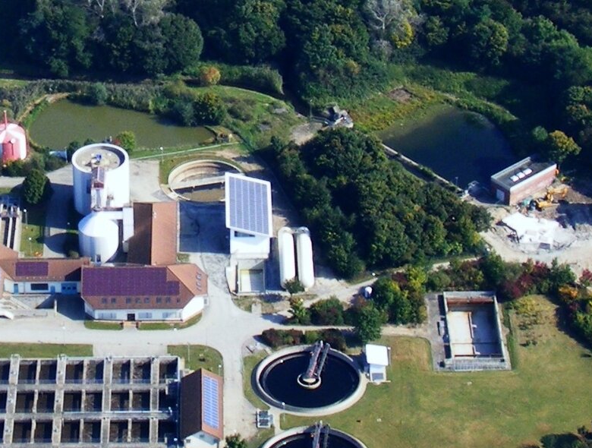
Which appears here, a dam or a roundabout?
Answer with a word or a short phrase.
dam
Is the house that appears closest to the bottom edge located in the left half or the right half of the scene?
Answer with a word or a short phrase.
left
